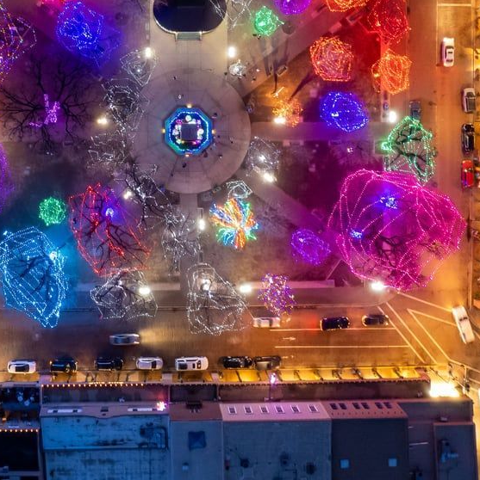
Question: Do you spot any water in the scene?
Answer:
No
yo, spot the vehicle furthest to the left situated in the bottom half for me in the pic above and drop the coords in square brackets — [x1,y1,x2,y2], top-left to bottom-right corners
[7,360,36,375]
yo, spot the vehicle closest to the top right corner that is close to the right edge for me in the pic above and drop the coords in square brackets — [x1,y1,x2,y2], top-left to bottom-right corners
[441,34,457,68]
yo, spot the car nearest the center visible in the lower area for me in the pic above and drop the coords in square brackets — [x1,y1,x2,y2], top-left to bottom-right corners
[252,315,281,329]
